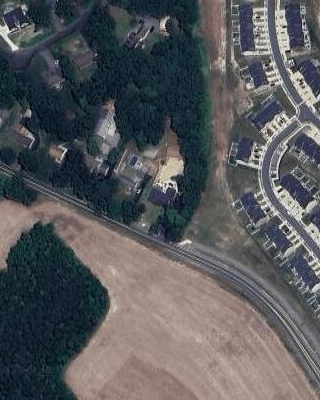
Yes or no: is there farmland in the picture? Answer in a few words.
Yes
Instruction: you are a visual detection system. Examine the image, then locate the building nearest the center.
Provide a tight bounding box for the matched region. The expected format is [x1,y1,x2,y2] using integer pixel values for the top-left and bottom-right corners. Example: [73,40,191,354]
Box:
[150,186,177,209]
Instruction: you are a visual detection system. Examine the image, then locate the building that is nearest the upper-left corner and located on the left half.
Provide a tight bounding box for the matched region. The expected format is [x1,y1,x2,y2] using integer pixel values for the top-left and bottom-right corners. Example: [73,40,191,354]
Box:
[8,7,29,31]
